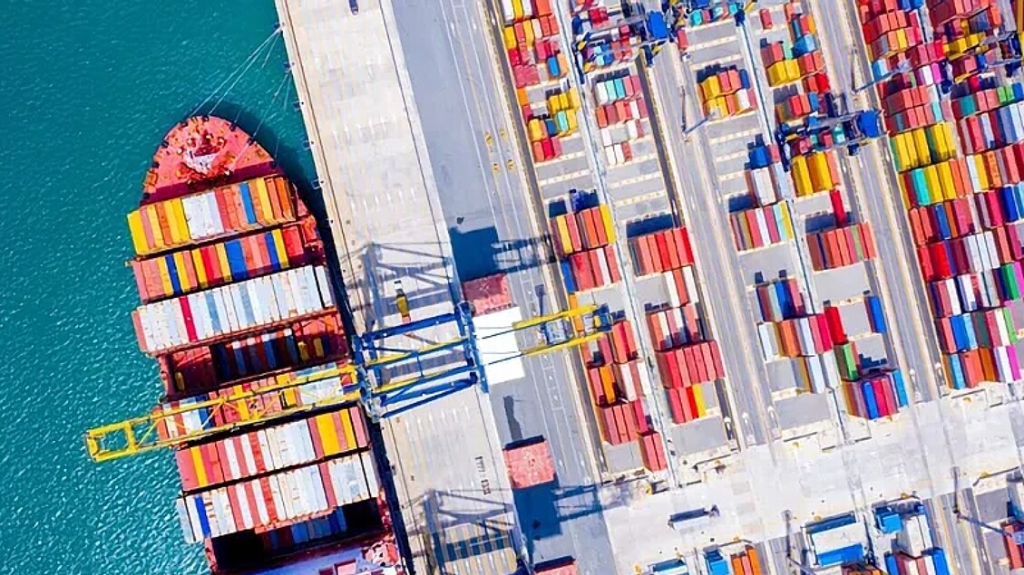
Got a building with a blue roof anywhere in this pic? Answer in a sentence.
Yes, looking at the shot, I can spot a building with a blue roof.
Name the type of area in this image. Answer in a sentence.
The picture captures a port.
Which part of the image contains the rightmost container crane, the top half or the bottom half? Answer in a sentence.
You can find the rightmost container crane in the top half.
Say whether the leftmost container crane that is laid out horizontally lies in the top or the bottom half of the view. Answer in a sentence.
The leftmost container crane that is laid out horizontally is in the bottom half of the image.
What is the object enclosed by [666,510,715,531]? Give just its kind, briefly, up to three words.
truck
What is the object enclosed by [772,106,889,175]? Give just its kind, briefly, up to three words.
container crane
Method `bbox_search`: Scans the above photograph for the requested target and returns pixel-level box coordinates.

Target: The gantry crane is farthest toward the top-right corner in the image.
[938,32,1024,99]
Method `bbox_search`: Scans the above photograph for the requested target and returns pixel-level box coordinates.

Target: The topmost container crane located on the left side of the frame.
[81,300,615,463]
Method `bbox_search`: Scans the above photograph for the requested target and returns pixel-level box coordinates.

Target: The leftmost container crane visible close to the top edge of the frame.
[570,6,666,82]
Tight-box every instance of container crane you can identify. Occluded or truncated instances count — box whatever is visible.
[938,32,1024,99]
[570,6,666,82]
[772,106,889,175]
[81,300,615,463]
[663,0,757,42]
